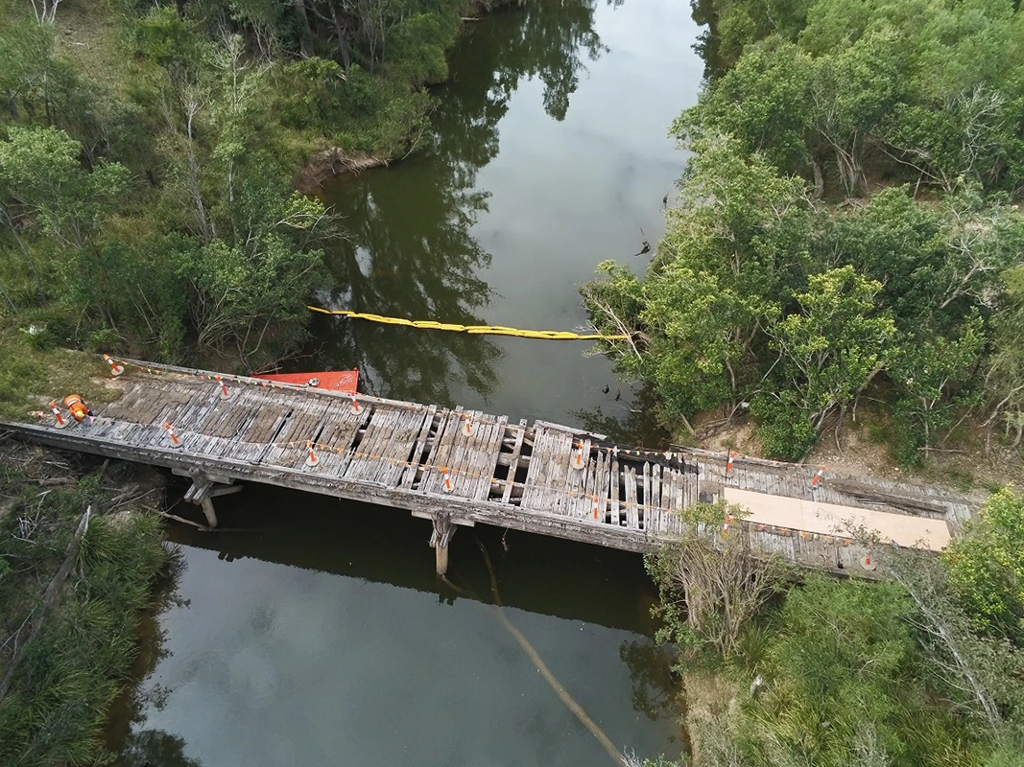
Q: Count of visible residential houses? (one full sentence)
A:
The picture shows no residential houses.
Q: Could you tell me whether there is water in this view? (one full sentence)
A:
Yes, some water is visible.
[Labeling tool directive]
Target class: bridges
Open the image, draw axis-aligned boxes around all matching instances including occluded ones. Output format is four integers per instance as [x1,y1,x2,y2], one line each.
[0,351,992,609]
